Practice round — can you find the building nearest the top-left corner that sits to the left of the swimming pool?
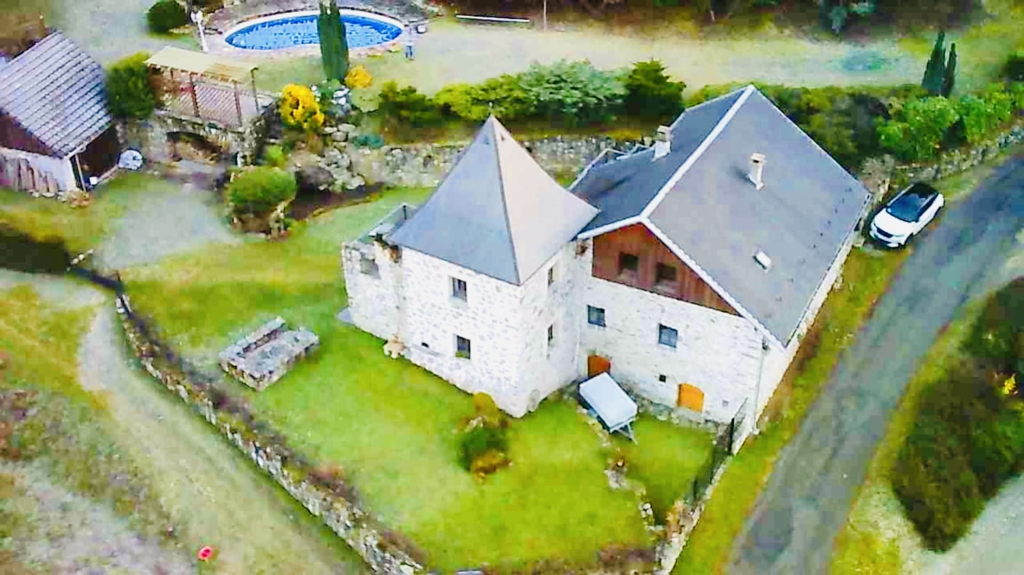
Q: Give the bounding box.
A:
[0,37,127,197]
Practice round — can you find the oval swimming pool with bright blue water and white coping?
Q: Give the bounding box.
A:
[219,6,410,54]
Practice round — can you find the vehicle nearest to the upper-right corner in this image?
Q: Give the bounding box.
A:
[867,180,946,248]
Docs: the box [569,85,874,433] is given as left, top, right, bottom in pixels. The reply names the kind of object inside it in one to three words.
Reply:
house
